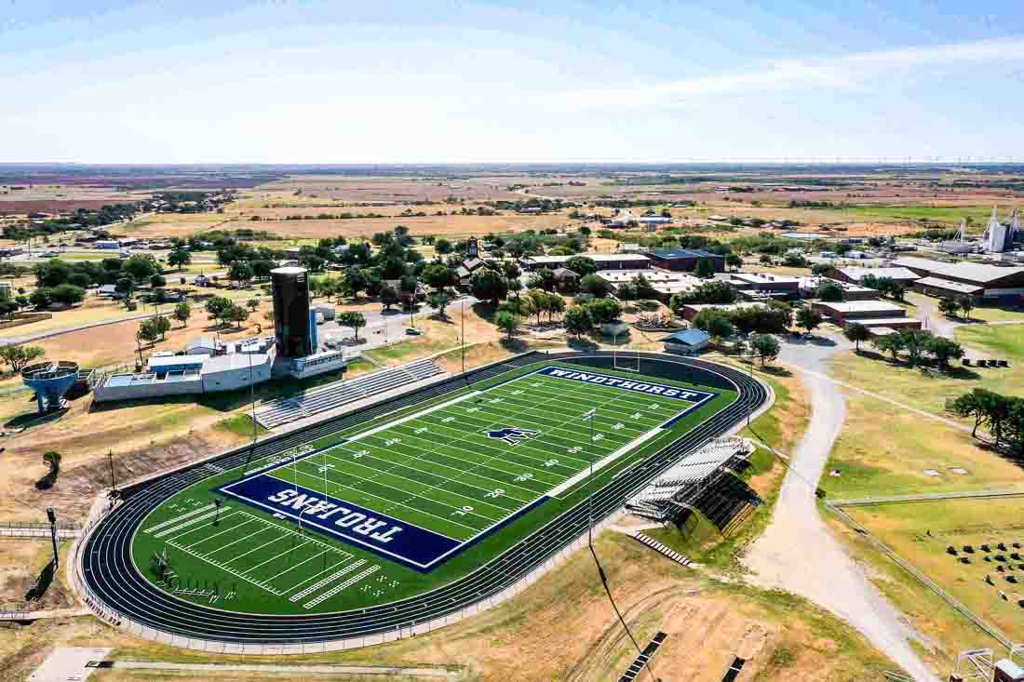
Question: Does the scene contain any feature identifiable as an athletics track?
Yes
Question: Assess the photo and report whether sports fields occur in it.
Yes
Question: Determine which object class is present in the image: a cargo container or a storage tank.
storage tank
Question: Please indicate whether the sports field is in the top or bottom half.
bottom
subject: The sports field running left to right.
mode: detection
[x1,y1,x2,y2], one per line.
[264,374,696,542]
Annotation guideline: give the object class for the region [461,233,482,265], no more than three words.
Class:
building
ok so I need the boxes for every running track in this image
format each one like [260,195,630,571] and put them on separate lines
[74,351,767,648]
